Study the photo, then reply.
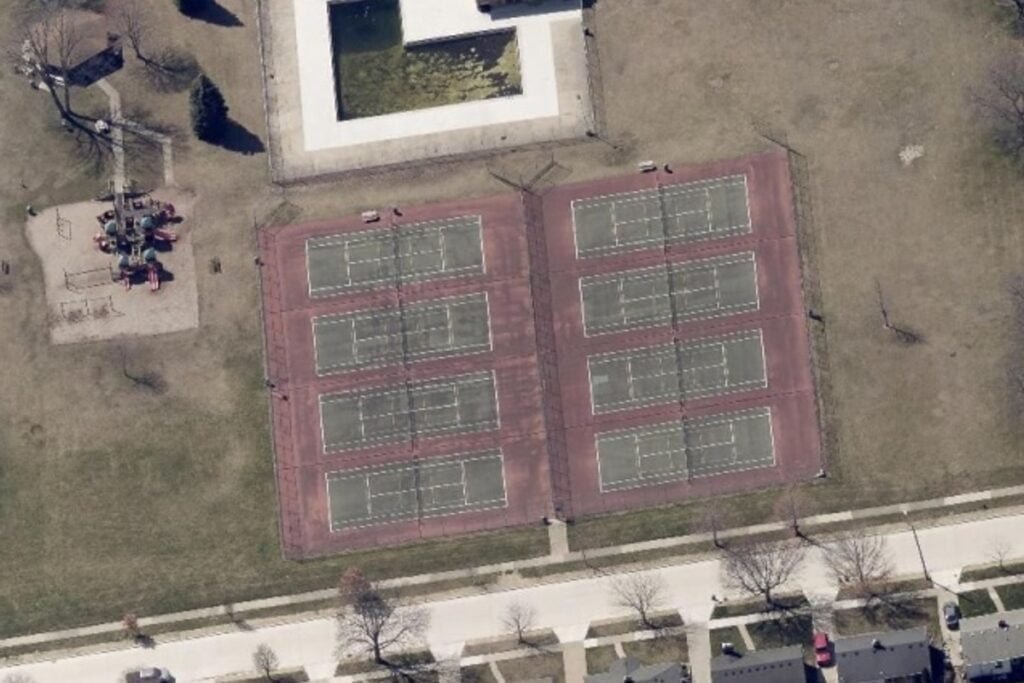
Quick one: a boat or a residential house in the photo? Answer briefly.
residential house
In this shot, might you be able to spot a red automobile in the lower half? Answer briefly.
Yes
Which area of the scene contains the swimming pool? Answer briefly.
top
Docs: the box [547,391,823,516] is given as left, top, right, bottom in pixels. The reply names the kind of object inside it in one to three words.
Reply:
tennis court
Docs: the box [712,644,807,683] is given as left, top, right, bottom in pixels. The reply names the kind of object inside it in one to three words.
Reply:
house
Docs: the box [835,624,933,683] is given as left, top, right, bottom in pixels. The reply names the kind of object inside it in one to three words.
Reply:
house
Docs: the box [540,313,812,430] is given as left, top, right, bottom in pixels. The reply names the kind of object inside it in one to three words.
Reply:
tennis court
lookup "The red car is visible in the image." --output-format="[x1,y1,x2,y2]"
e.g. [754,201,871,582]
[814,633,834,665]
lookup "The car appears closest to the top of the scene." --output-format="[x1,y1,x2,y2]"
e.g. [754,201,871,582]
[942,601,960,631]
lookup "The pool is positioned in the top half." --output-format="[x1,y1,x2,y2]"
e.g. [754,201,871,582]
[292,0,582,152]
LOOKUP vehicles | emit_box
[814,633,834,665]
[126,668,174,683]
[942,601,960,631]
